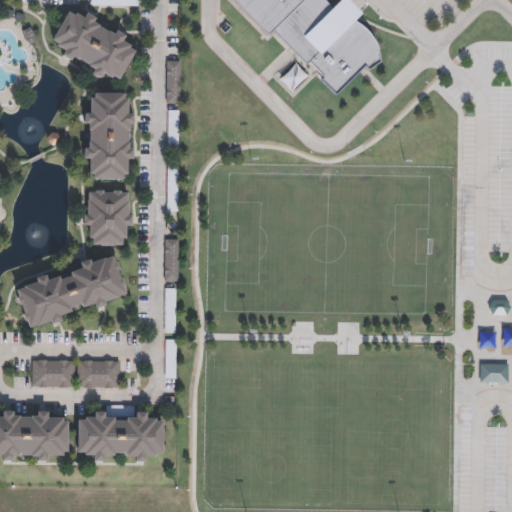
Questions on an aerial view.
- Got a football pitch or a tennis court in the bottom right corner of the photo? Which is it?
football pitch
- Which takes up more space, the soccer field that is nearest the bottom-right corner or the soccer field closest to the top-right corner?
the soccer field closest to the top-right corner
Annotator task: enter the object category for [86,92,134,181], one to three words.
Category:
building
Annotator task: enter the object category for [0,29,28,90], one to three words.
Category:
swimming pool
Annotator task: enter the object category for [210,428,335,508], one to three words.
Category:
soccer field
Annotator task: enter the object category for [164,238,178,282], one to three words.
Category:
building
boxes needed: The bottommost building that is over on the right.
[480,362,508,384]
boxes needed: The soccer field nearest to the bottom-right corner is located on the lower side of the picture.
[344,358,444,508]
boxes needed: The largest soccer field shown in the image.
[218,166,437,324]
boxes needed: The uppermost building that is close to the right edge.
[488,298,510,316]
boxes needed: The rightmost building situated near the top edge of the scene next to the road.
[235,0,381,94]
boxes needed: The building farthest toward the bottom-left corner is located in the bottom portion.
[0,410,70,461]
